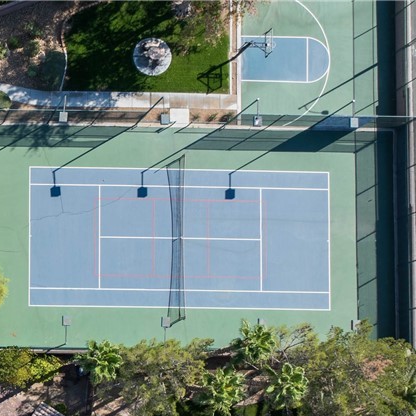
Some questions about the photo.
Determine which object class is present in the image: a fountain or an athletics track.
fountain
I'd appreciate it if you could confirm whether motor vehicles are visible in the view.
No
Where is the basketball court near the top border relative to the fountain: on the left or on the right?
on the right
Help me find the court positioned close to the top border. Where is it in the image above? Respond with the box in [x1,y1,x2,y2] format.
[240,0,377,124]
